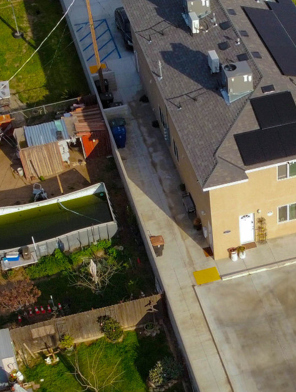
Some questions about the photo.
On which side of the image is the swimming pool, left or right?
left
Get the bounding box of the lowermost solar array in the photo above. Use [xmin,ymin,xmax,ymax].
[233,90,296,167]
